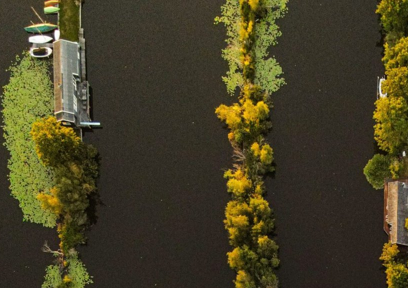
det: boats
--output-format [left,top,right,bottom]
[29,47,52,57]
[44,6,60,14]
[25,18,53,44]
[378,77,386,99]
[24,8,57,32]
[44,0,60,6]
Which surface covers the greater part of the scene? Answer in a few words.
water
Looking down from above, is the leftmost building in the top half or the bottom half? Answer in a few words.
top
